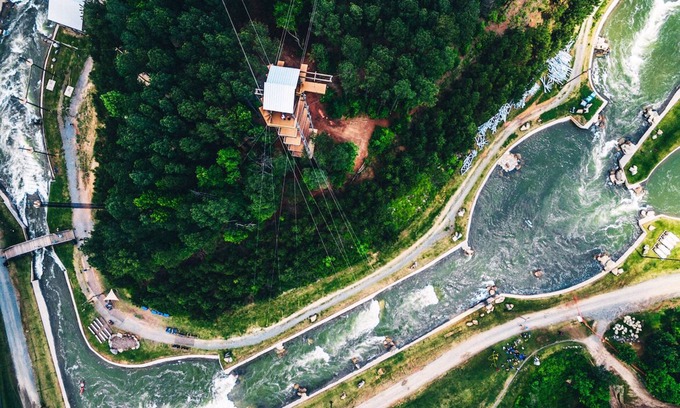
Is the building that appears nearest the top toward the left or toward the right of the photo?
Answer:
left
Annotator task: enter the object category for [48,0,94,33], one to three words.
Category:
building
